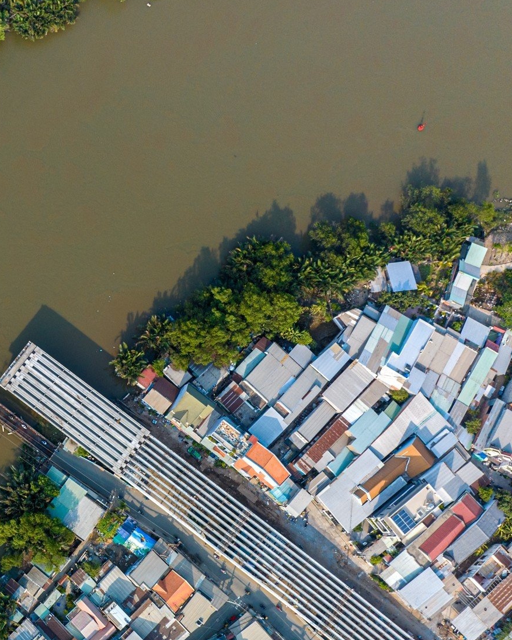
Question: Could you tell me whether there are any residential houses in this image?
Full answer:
Yes, there's a residential house here.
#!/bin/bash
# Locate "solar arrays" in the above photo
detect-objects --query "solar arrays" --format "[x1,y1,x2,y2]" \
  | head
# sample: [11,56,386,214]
[393,508,415,533]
